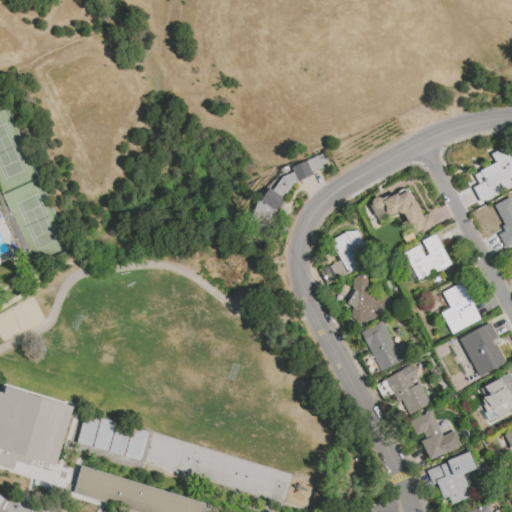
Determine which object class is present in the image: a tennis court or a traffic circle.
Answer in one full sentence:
This aerial view contains a tennis court.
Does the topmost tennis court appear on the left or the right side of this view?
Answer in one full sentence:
The topmost tennis court appears in the left half of the scene.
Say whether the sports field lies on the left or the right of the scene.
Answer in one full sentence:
The sports field appears in the left half of the scene.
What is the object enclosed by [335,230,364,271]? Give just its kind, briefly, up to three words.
house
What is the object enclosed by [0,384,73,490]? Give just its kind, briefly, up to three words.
building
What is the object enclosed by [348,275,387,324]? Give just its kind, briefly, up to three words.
house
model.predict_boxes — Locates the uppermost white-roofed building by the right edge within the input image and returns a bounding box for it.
[474,150,512,200]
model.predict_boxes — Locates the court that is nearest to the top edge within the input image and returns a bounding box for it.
[0,109,35,193]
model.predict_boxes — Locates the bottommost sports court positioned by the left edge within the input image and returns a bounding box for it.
[0,296,45,342]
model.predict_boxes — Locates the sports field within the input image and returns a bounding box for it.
[0,270,318,474]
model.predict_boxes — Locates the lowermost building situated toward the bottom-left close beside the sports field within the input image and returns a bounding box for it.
[71,466,206,512]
